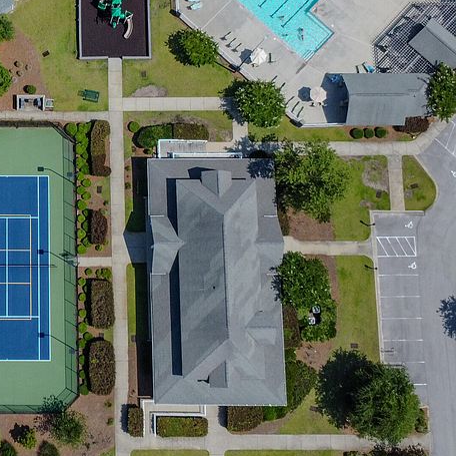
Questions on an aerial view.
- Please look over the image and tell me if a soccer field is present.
No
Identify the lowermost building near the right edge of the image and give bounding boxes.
[333,74,456,127]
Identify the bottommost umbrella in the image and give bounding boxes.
[308,85,327,104]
